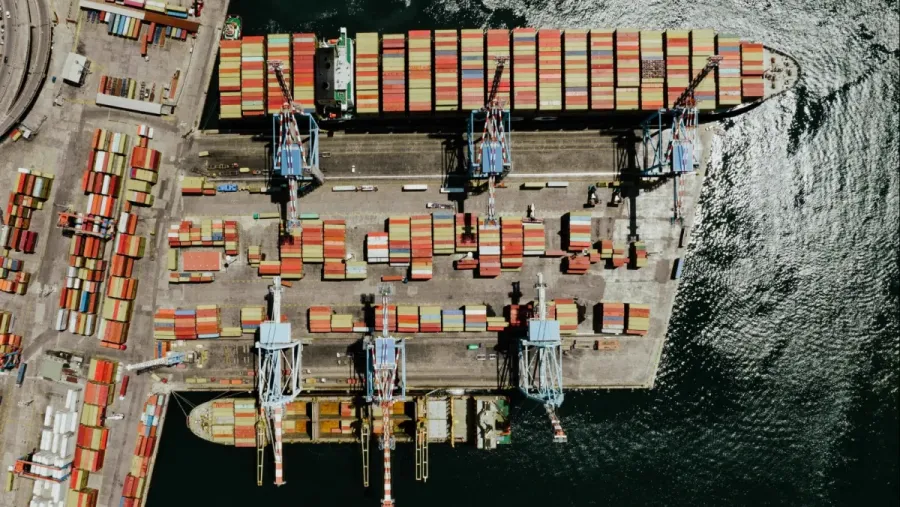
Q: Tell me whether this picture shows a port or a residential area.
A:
port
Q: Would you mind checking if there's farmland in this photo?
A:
No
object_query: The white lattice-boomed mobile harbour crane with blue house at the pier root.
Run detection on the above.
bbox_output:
[122,344,208,372]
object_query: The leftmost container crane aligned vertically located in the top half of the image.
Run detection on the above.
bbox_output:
[267,62,327,224]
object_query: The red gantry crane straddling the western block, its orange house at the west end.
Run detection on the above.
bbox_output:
[53,210,120,242]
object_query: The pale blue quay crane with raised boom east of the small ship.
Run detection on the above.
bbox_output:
[513,276,565,439]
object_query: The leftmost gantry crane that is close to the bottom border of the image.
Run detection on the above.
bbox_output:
[9,446,74,488]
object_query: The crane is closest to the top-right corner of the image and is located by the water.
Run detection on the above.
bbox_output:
[635,56,722,220]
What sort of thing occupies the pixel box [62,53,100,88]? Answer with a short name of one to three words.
building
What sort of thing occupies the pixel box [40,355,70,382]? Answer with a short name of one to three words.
shed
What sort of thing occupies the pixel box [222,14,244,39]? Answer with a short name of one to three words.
boat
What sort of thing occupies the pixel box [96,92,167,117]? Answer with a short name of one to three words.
shed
